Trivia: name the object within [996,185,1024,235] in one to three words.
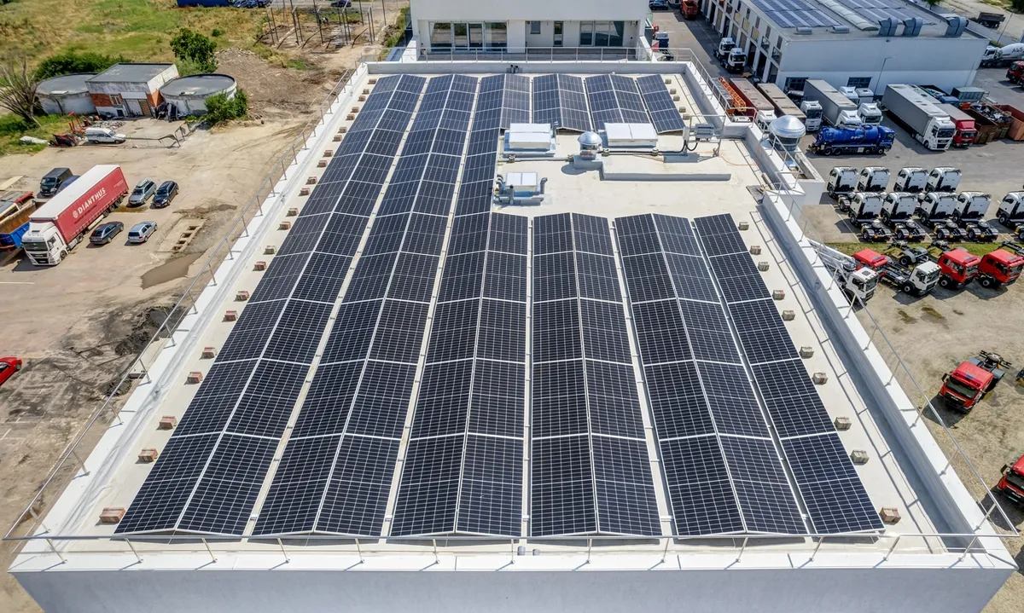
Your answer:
truck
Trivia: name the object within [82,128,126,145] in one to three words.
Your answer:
car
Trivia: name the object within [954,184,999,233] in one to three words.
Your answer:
truck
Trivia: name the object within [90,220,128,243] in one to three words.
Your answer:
car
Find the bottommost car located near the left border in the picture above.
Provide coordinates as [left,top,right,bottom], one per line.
[0,354,27,388]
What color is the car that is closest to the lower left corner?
red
